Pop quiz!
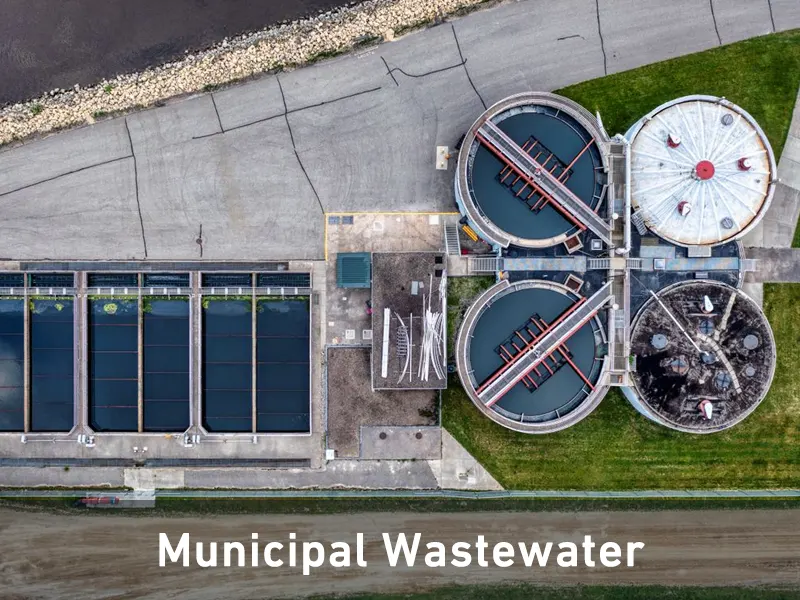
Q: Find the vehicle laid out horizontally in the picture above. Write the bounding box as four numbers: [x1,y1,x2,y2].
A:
[79,496,118,512]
